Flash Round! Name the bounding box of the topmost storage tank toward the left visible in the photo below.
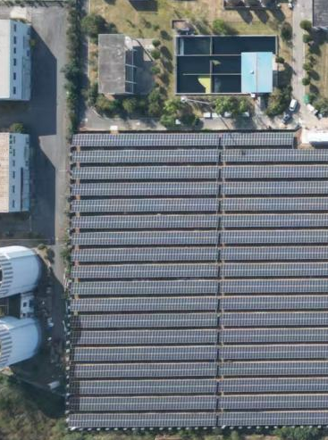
[0,245,42,301]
